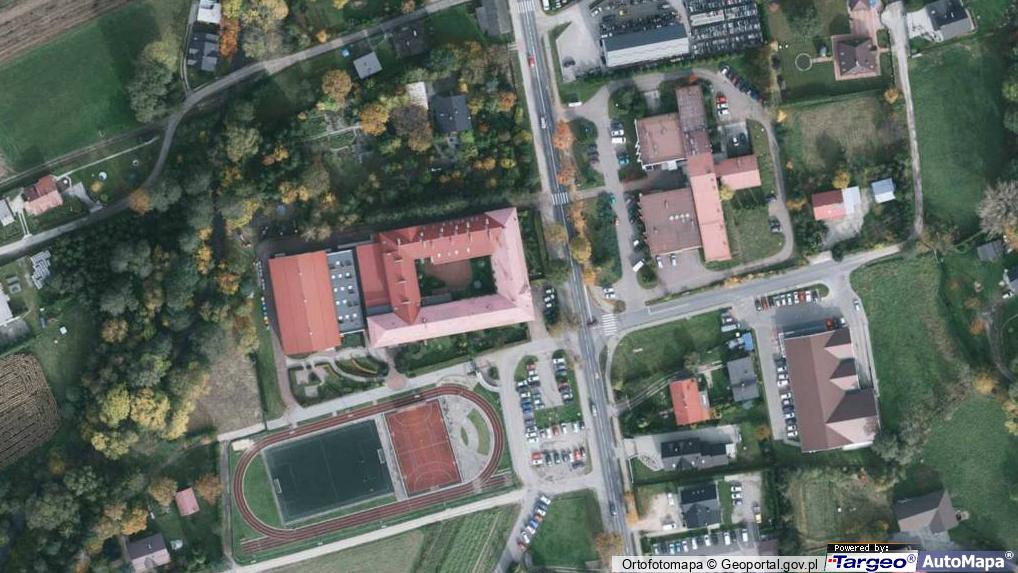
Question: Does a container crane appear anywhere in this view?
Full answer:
No, there is no container crane in the image.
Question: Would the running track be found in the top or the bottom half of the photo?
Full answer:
You can find the running track in the bottom half.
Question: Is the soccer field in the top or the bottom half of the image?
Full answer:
The soccer field is in the bottom half of the image.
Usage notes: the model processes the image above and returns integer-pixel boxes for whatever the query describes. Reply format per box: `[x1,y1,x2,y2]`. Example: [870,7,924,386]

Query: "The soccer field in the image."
[263,422,391,525]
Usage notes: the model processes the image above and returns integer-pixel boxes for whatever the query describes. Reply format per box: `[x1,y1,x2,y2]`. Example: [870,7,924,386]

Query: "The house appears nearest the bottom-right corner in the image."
[892,489,957,533]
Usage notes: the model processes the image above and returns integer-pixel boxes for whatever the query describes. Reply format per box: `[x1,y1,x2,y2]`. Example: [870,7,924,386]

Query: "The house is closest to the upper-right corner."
[926,0,971,41]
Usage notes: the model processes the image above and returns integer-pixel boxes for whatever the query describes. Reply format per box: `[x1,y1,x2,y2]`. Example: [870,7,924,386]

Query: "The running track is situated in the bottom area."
[233,382,512,551]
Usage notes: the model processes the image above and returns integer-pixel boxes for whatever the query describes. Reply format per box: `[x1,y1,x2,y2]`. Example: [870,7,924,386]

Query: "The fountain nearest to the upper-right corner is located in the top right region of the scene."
[795,53,812,71]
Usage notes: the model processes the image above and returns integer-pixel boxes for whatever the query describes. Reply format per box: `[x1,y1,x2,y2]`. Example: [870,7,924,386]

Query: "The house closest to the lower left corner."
[127,533,170,572]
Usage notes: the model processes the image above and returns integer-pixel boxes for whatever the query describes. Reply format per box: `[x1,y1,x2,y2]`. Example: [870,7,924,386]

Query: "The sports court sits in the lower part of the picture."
[381,398,462,494]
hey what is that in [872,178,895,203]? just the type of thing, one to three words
shed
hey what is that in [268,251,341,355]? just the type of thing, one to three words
building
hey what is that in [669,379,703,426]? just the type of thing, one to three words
house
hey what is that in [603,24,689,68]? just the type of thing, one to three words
building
